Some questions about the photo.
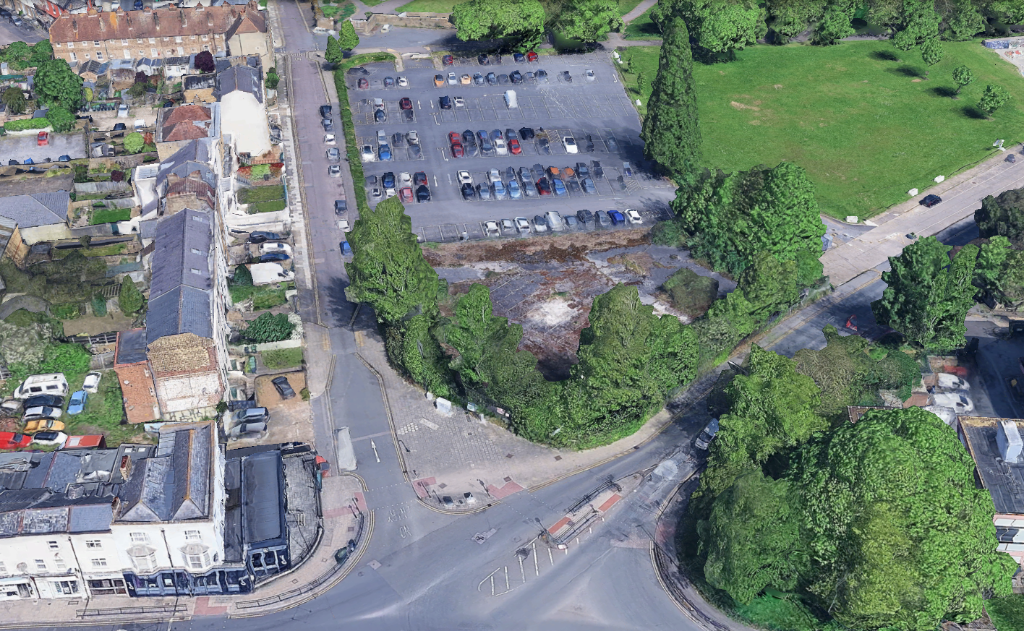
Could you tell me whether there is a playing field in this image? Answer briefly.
No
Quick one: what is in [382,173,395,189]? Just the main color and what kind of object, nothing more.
blue vehicle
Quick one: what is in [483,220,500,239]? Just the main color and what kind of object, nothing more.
white car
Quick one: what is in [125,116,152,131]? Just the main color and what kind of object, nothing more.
white vehicle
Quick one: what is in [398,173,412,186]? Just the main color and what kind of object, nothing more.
white vehicle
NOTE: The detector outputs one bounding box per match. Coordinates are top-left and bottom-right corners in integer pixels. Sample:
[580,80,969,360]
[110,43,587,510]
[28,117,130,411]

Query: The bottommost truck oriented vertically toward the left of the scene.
[332,424,360,475]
